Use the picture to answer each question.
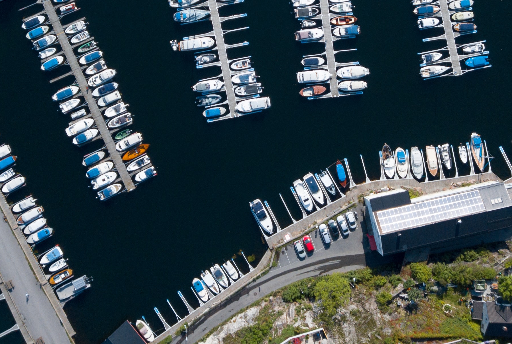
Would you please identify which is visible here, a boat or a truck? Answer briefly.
boat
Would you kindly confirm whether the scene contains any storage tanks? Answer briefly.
No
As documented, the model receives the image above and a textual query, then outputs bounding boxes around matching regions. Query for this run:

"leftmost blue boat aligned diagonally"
[0,156,18,171]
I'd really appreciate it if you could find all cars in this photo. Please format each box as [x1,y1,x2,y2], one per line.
[345,211,357,229]
[328,219,340,237]
[293,240,307,259]
[302,234,314,253]
[338,215,349,234]
[320,224,331,243]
